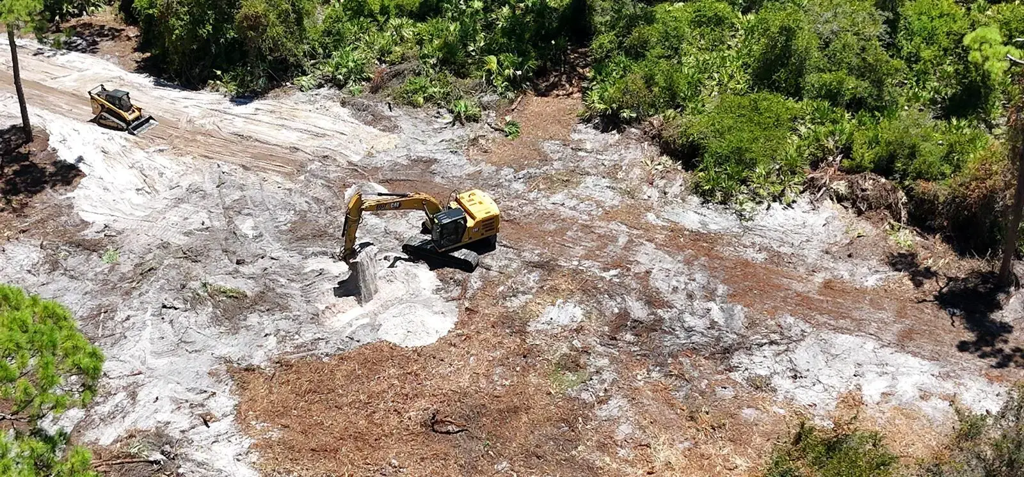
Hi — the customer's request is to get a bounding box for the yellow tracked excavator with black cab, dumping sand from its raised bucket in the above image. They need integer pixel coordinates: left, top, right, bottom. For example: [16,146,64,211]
[342,188,503,276]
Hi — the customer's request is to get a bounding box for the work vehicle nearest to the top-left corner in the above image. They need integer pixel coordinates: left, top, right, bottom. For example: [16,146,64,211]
[87,79,156,135]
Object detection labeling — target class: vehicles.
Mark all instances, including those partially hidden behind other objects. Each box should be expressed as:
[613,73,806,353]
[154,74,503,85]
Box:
[87,79,156,135]
[342,188,503,276]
